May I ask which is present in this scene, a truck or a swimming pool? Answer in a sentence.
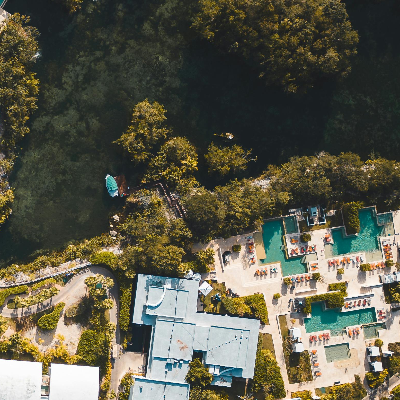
I can see a swimming pool in this picture.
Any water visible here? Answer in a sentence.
Yes, the picture does contain water.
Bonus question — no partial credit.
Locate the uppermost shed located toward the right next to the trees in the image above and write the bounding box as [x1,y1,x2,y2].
[306,205,324,226]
